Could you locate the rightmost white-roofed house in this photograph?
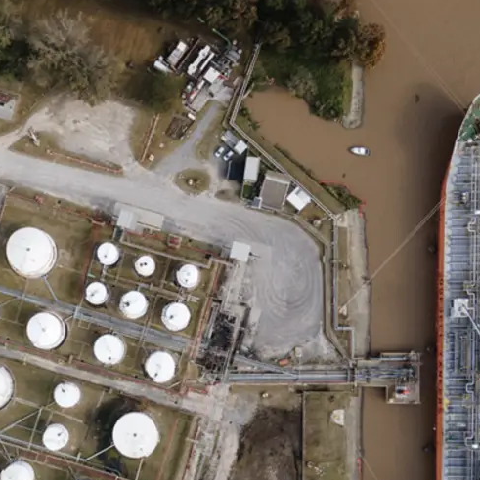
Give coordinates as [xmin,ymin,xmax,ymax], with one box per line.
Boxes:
[287,187,311,213]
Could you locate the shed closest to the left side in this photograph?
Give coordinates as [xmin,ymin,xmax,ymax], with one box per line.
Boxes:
[114,202,165,234]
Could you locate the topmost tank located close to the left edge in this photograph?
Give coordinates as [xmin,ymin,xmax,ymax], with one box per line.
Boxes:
[7,229,59,284]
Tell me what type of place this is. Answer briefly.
industrial area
